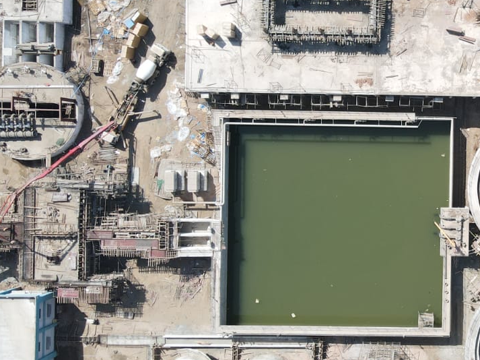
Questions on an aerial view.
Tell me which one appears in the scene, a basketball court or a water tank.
water tank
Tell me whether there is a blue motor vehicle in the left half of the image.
No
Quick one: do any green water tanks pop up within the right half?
Yes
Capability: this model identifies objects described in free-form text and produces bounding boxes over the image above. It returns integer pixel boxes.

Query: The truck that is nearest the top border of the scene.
[127,38,167,88]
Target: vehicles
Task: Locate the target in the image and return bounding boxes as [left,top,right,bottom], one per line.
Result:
[127,38,167,88]
[0,84,162,242]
